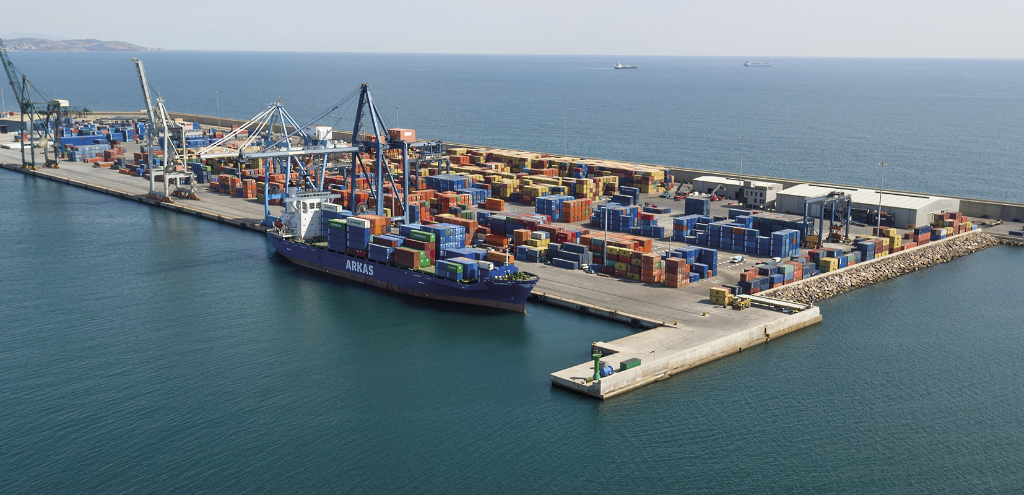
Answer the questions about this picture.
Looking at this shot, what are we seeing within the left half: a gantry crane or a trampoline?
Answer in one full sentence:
It is a gantry crane that can be seen within the left half.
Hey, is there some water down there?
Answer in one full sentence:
Yes, there's water in this view.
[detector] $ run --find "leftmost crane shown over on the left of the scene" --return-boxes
[0,39,93,170]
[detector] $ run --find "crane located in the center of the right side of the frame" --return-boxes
[802,191,855,247]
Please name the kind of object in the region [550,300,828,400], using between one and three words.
pier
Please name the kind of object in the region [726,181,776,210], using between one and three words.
building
